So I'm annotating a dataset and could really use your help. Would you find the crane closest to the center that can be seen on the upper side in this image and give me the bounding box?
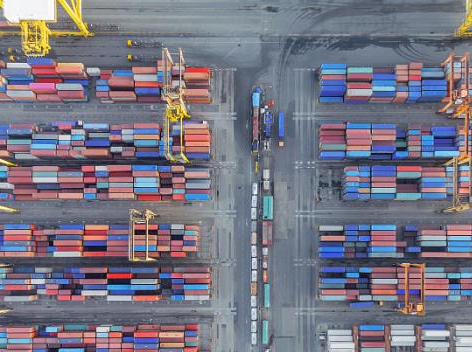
[163,98,194,168]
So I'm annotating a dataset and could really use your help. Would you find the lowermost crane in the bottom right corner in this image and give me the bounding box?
[388,262,425,321]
